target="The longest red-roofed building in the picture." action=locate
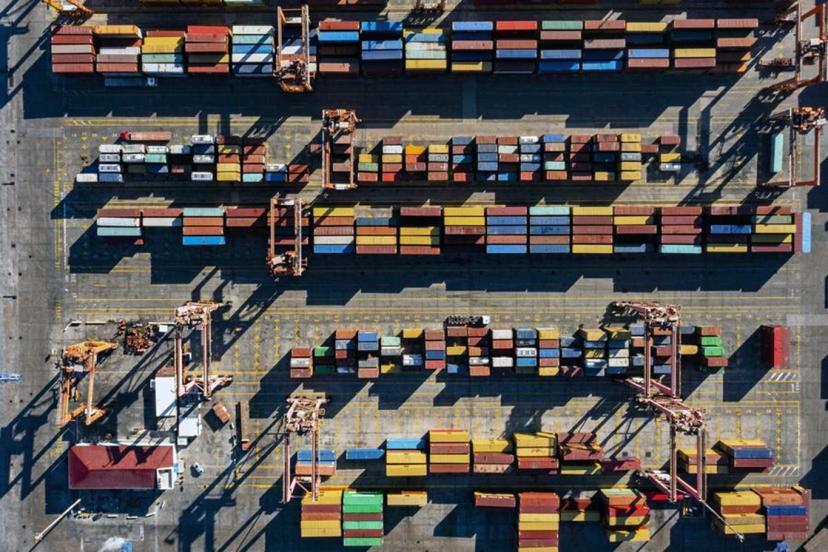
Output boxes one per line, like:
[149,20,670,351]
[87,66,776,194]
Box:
[67,438,182,491]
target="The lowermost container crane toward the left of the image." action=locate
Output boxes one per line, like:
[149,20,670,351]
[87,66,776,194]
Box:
[282,398,332,504]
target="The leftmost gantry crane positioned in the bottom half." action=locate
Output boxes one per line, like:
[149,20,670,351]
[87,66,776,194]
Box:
[49,334,132,426]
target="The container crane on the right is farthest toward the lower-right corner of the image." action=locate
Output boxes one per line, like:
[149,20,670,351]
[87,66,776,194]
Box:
[640,397,716,504]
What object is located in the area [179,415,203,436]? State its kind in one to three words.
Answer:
building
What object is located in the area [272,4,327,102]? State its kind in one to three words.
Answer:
container crane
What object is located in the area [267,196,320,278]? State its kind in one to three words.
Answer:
container crane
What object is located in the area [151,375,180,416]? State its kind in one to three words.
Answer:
building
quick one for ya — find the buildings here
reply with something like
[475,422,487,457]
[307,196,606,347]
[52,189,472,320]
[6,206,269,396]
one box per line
[179,415,203,436]
[151,375,180,416]
[67,438,182,491]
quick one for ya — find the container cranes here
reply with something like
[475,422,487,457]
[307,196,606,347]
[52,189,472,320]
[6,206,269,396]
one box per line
[49,334,132,426]
[165,298,235,399]
[311,105,368,194]
[408,0,451,10]
[640,397,716,504]
[282,398,332,504]
[746,103,828,192]
[272,4,327,102]
[617,301,685,399]
[267,196,320,278]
